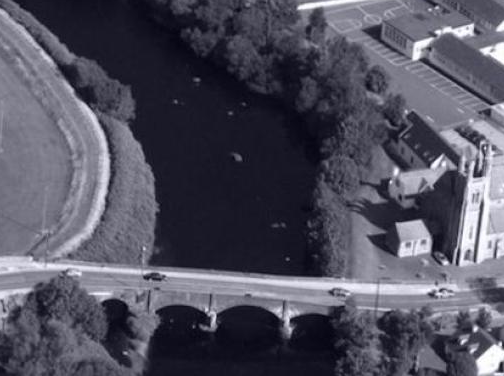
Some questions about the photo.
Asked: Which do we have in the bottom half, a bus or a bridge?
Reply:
bridge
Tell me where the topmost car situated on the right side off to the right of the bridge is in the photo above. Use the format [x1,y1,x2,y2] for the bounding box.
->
[430,249,450,265]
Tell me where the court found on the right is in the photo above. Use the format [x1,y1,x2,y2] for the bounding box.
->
[325,0,412,34]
